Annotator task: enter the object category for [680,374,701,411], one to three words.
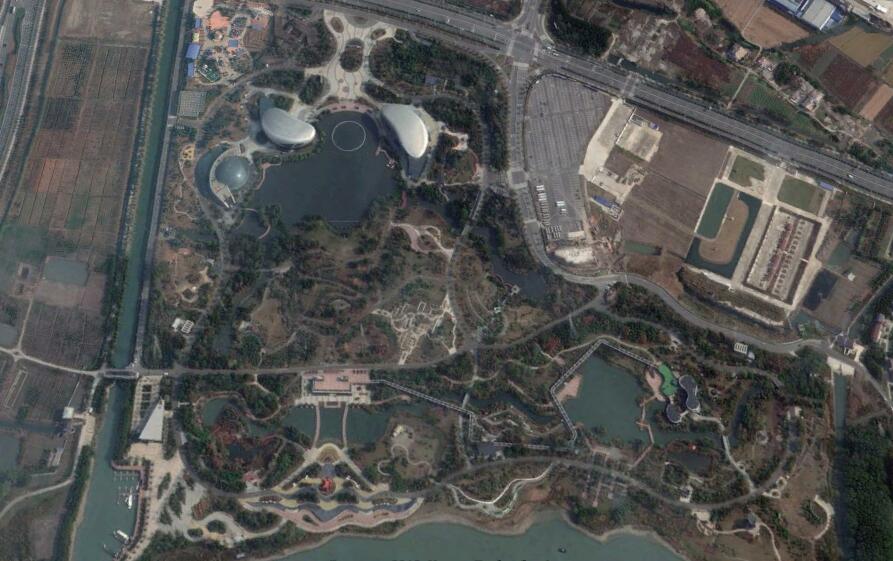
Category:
building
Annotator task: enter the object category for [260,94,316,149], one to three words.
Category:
building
